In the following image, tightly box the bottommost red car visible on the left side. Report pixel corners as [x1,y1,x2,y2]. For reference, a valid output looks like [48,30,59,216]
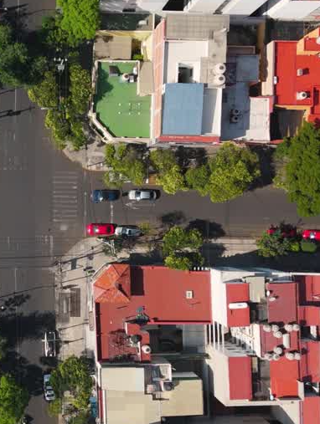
[87,223,114,236]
